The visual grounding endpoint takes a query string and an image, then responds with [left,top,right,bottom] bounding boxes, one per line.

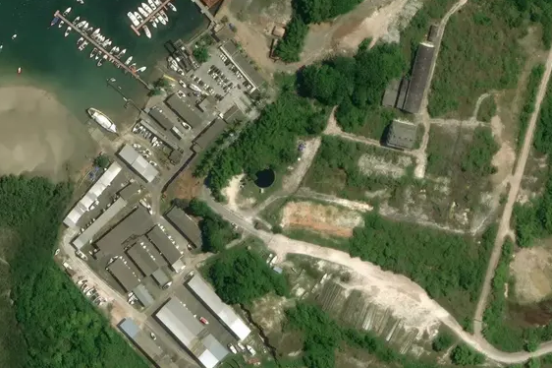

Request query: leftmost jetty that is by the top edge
[53,8,137,78]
